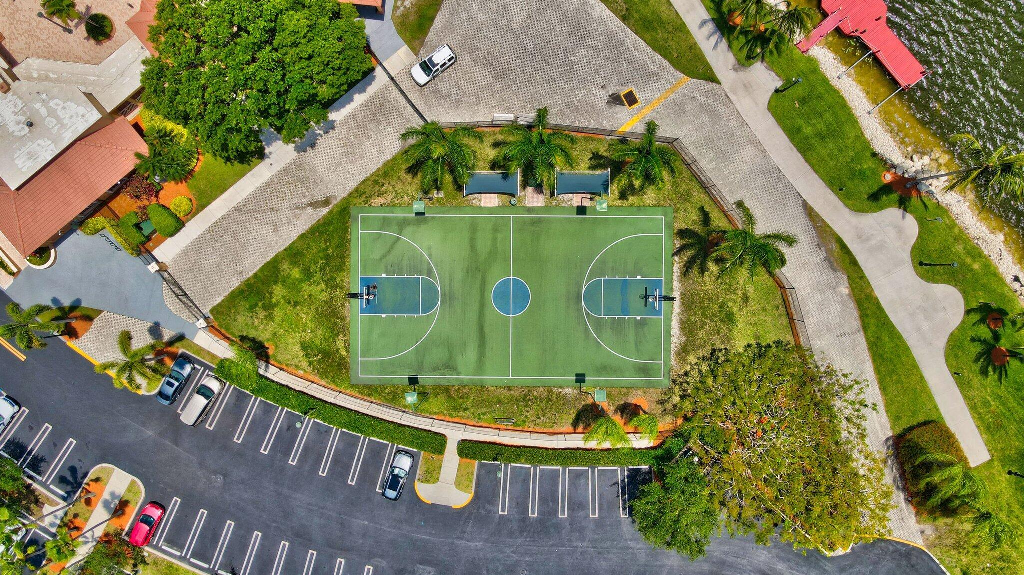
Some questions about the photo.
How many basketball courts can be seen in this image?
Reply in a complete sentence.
There is 1 basketball court in the image.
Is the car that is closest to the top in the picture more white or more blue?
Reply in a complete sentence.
In this view, the car that is closest to the top is white.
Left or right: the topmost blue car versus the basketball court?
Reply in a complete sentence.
You can see the topmost blue car positioned to the left of the basketball court.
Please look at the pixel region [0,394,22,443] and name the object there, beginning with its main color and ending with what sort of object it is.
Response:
white car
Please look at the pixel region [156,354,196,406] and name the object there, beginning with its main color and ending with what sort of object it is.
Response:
blue car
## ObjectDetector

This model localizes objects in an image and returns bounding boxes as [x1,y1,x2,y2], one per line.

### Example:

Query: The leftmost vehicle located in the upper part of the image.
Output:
[410,41,459,89]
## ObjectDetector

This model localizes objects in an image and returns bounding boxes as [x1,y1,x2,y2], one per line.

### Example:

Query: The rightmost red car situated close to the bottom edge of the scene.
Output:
[130,498,168,548]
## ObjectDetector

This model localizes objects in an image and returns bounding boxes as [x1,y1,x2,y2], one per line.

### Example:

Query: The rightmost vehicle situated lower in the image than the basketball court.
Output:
[381,448,416,502]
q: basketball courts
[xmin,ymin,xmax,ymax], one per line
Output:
[351,207,674,388]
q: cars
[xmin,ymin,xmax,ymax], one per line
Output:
[156,354,196,406]
[130,498,168,548]
[410,41,459,89]
[381,448,416,502]
[178,373,226,429]
[0,394,22,443]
